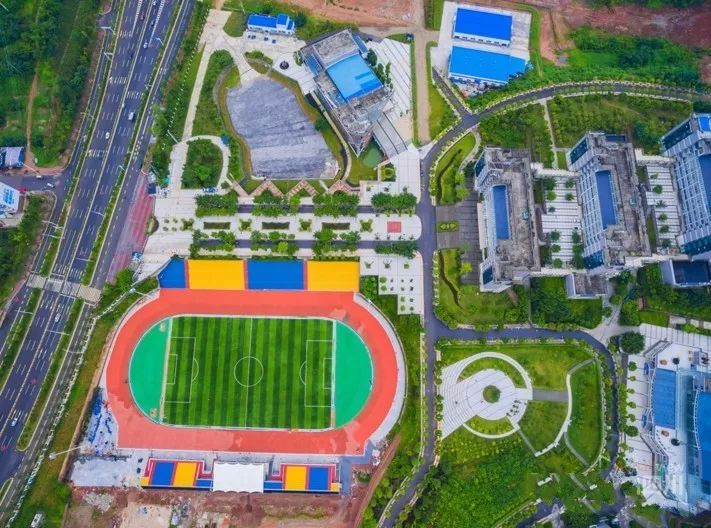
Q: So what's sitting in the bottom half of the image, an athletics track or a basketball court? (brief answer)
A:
athletics track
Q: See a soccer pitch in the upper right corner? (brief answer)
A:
No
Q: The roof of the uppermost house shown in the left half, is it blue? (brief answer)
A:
Yes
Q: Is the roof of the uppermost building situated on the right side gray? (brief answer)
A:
No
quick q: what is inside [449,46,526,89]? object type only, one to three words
building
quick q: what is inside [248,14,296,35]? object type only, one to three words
house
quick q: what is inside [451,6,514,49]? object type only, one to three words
building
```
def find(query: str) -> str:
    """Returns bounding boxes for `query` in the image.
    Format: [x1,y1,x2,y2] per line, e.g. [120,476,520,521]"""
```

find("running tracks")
[105,290,397,456]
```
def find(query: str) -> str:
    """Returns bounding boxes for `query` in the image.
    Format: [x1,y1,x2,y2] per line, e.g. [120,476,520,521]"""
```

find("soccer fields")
[160,315,335,431]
